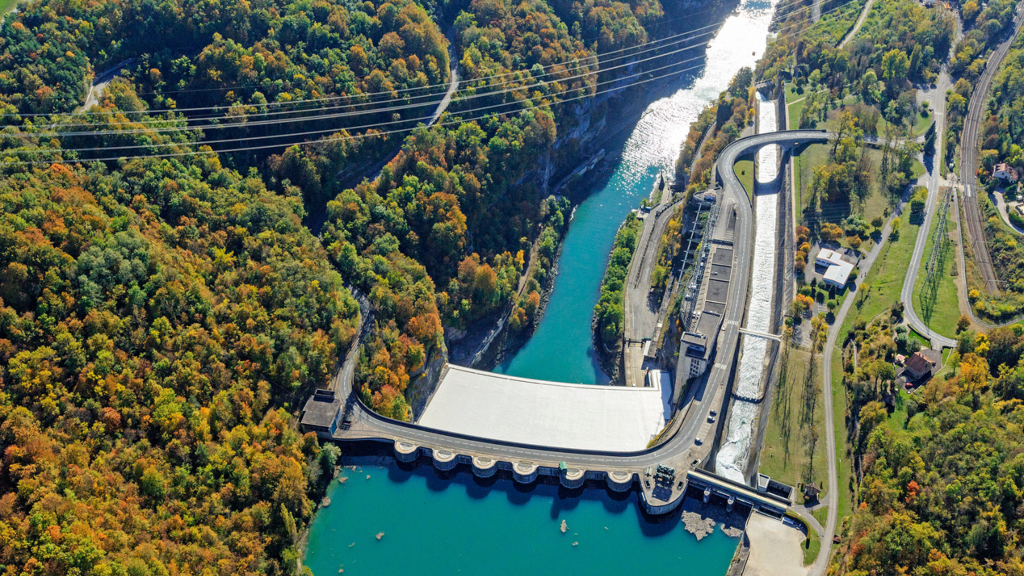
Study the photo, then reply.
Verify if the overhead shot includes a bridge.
Yes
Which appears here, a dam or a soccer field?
dam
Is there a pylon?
Yes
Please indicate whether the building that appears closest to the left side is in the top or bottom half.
bottom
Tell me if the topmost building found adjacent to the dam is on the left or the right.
right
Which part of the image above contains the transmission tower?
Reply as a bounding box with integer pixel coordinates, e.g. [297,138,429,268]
[919,184,971,301]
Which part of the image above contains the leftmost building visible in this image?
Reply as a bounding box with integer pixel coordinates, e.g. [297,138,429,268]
[301,389,341,443]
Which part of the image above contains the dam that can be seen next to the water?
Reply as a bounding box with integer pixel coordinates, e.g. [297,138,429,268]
[334,383,707,516]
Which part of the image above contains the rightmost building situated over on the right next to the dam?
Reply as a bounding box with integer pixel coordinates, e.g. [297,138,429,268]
[679,239,734,375]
